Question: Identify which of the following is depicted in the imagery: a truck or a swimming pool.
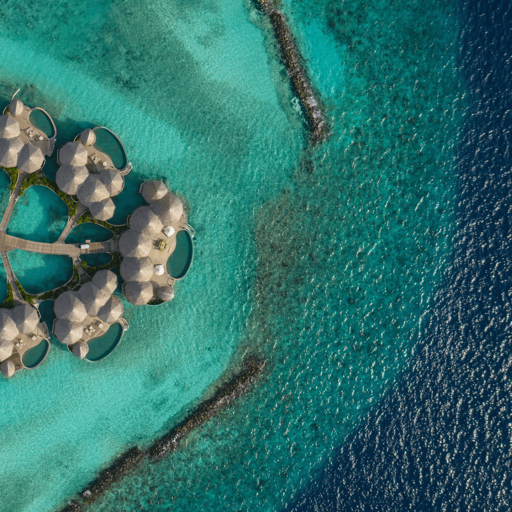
swimming pool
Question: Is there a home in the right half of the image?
No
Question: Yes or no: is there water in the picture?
Yes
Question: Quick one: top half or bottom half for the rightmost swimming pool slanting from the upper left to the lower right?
top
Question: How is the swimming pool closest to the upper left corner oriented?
at an angle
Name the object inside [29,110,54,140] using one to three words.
swimming pool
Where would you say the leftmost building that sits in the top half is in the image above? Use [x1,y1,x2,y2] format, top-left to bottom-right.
[0,99,57,176]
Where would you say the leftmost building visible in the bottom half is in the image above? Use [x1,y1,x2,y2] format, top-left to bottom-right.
[0,304,51,378]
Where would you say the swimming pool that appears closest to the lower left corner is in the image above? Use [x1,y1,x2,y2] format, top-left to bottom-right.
[22,339,48,368]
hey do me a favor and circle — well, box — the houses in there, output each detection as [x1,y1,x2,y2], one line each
[56,126,133,222]
[0,304,51,378]
[51,268,129,364]
[111,179,195,307]
[0,99,57,176]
